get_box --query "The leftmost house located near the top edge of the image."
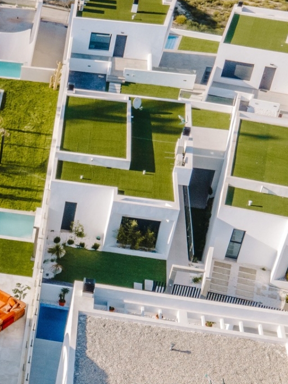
[69,0,166,58]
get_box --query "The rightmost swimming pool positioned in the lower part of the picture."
[32,304,66,342]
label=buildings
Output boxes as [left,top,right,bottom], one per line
[46,87,199,260]
[69,0,166,58]
[205,1,288,93]
[54,275,288,384]
[201,100,288,267]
